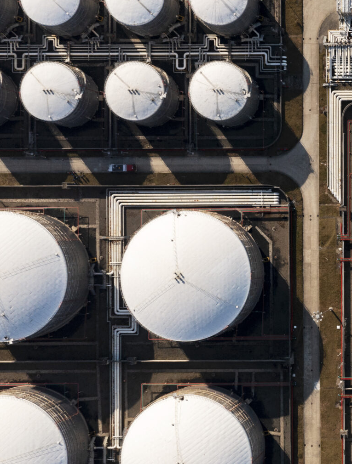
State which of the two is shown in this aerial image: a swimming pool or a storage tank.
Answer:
storage tank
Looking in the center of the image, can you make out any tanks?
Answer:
Yes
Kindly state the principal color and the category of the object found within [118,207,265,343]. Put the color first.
white storage tank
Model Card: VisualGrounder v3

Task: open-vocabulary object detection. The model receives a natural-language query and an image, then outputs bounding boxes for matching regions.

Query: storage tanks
[18,60,100,129]
[0,208,91,346]
[102,60,181,129]
[0,386,91,464]
[188,0,260,37]
[118,207,265,343]
[104,0,181,37]
[188,60,261,129]
[120,387,266,464]
[18,0,101,37]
